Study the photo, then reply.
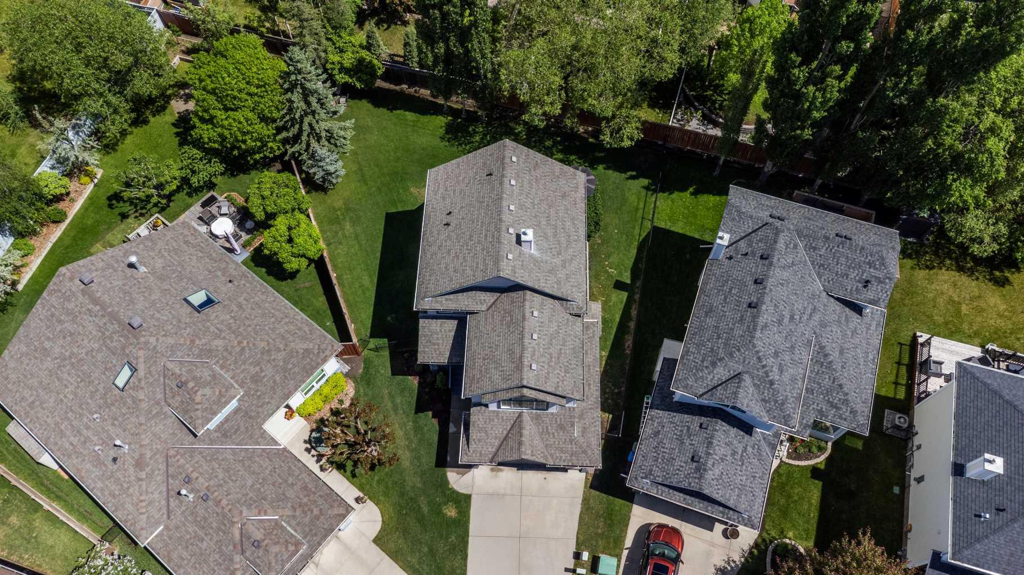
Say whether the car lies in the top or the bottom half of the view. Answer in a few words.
bottom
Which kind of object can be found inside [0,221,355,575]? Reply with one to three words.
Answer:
house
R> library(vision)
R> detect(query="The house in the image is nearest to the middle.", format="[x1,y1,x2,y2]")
[412,140,603,471]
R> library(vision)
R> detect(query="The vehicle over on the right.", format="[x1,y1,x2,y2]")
[637,522,686,575]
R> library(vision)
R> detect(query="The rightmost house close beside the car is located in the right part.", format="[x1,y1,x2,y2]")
[625,182,904,535]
